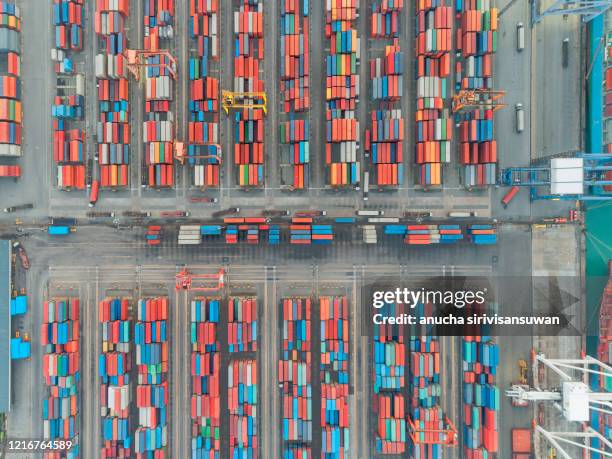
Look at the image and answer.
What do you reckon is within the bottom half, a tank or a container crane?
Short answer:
container crane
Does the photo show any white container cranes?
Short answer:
Yes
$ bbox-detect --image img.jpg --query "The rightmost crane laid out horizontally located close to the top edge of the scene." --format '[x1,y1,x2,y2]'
[531,0,607,26]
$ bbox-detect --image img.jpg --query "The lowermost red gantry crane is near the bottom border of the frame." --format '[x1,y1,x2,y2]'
[407,415,458,446]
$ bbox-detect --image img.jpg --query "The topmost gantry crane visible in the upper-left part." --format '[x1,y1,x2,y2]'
[123,49,178,78]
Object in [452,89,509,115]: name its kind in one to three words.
container crane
